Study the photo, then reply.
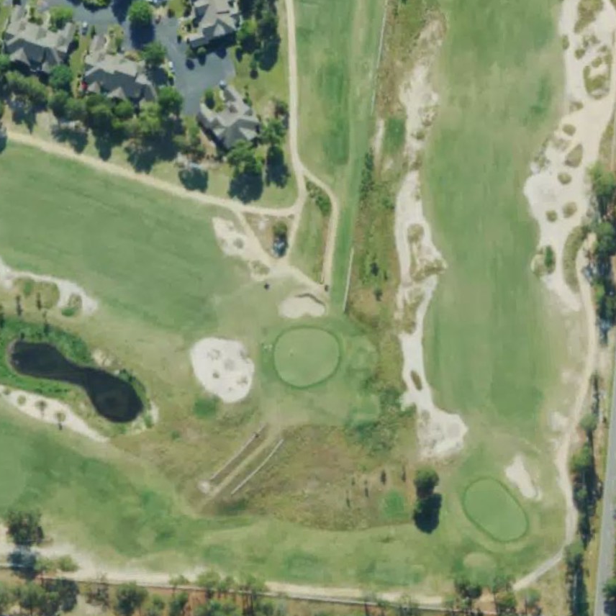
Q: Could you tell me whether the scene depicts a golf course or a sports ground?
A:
golf course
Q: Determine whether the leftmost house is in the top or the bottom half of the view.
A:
top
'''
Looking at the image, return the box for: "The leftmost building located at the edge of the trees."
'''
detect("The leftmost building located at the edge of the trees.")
[3,7,79,75]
